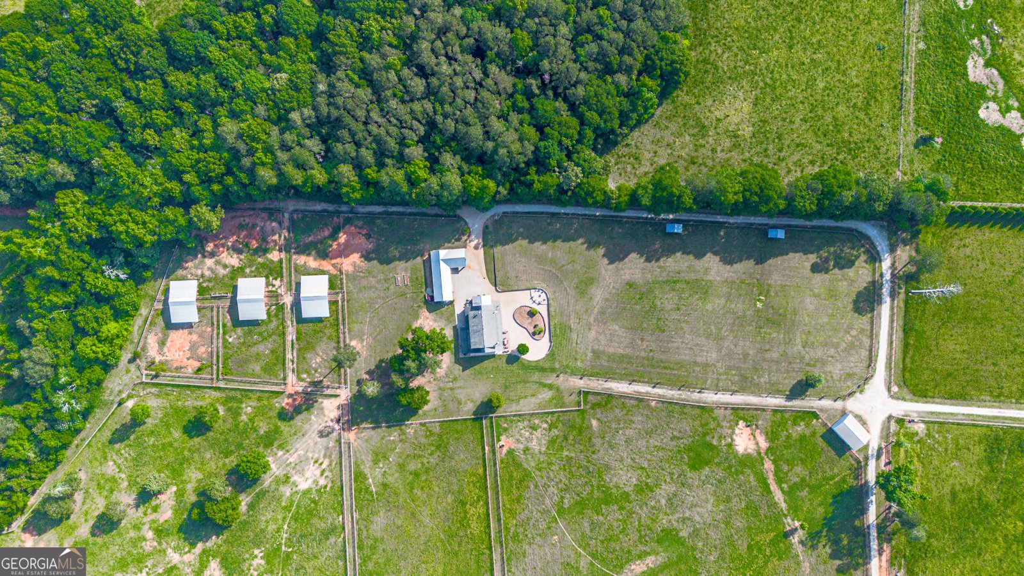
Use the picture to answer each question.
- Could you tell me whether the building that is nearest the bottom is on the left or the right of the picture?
right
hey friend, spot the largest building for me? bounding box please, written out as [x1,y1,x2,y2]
[460,295,503,353]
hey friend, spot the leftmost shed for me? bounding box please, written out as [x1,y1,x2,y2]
[168,280,201,323]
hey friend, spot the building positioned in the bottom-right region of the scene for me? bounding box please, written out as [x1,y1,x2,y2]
[831,413,871,450]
